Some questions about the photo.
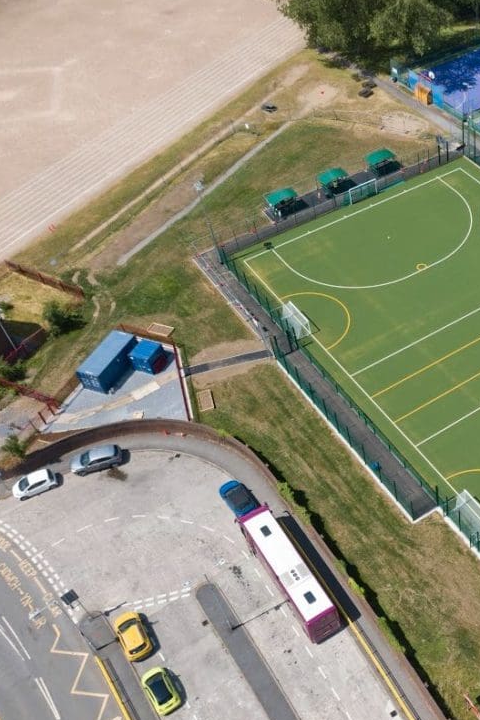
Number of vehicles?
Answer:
6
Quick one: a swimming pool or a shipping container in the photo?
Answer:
shipping container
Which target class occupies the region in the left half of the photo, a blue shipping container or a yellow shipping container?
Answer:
blue shipping container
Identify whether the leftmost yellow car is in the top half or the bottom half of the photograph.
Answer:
bottom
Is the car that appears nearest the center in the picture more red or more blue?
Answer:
blue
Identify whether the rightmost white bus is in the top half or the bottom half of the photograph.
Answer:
bottom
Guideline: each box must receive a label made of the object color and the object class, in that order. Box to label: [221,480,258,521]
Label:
blue car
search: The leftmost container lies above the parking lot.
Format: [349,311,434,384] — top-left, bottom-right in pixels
[76,330,138,393]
